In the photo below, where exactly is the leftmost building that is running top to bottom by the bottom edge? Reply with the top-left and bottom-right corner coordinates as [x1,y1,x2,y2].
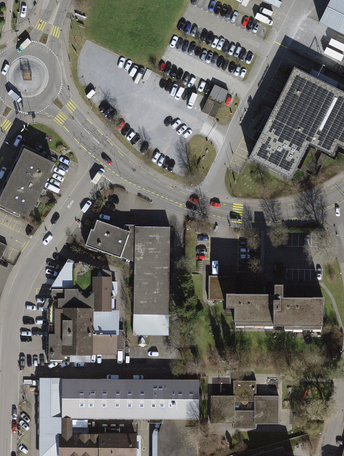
[39,378,61,456]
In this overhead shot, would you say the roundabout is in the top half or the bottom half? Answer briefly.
top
